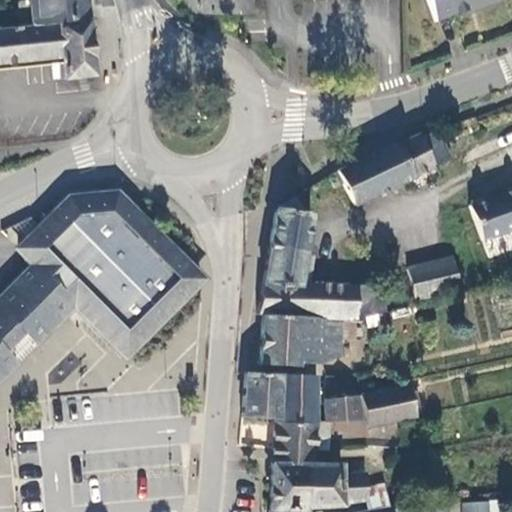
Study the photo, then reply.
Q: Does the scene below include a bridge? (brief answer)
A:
No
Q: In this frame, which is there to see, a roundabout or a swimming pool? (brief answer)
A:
roundabout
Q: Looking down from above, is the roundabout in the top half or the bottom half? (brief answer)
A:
top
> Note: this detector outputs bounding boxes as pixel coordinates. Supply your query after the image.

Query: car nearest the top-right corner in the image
[442,18,456,43]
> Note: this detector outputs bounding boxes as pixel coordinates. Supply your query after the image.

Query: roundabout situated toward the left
[130,34,252,182]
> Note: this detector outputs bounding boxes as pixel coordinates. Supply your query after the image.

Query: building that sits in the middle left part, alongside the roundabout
[0,190,207,382]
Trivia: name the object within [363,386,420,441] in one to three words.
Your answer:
building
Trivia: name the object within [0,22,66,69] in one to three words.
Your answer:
house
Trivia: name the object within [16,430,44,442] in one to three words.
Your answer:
vehicle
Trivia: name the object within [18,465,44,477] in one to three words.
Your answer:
vehicle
